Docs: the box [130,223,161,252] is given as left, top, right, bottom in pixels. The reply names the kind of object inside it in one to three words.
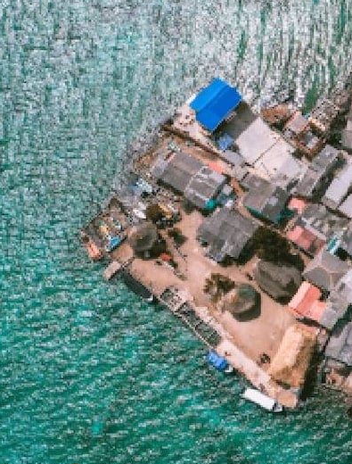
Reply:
shed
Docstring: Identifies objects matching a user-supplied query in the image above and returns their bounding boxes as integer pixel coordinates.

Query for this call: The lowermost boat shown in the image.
[240,385,283,410]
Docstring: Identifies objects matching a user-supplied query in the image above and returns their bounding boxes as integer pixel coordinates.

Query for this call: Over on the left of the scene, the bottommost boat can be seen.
[120,267,154,299]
